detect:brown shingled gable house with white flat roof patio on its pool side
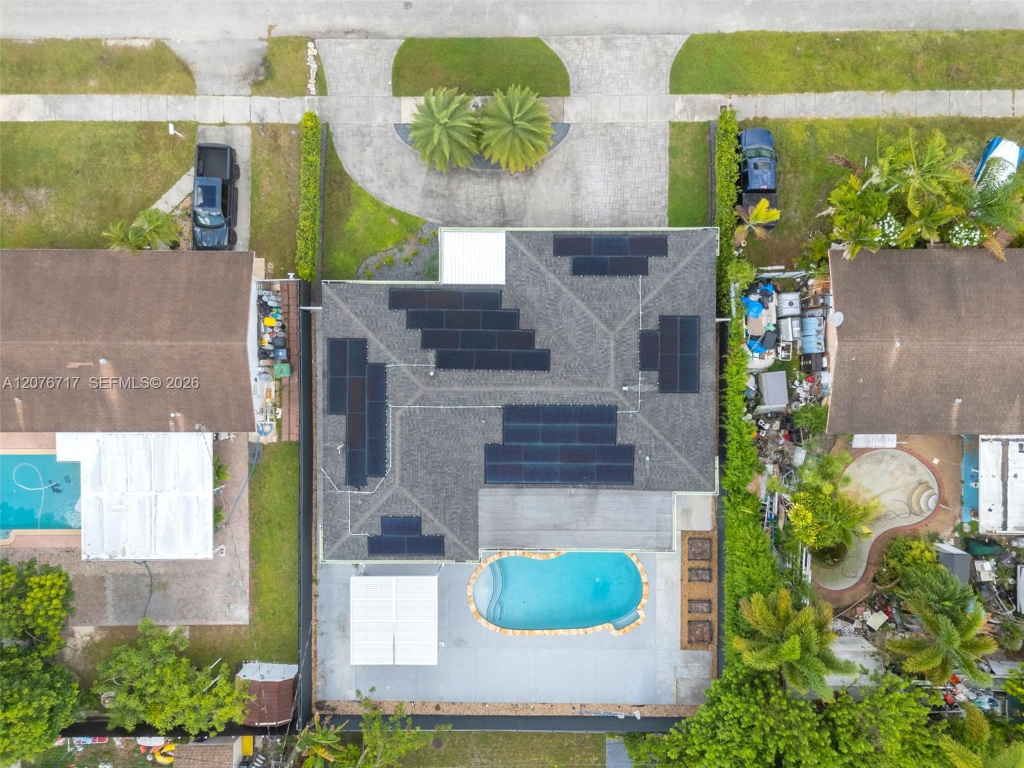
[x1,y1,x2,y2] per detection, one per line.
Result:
[0,250,261,433]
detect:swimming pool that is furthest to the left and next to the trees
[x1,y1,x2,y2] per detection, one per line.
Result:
[0,454,80,540]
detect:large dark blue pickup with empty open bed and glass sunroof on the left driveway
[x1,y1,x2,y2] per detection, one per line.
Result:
[190,144,244,250]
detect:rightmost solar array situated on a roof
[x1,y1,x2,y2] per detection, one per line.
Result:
[638,316,699,393]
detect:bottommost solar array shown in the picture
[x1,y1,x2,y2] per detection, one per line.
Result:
[368,515,444,556]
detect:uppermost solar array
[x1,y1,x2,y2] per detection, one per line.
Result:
[554,236,668,277]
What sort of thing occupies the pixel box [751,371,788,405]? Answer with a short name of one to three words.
shed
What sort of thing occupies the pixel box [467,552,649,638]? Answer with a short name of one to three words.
swimming pool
